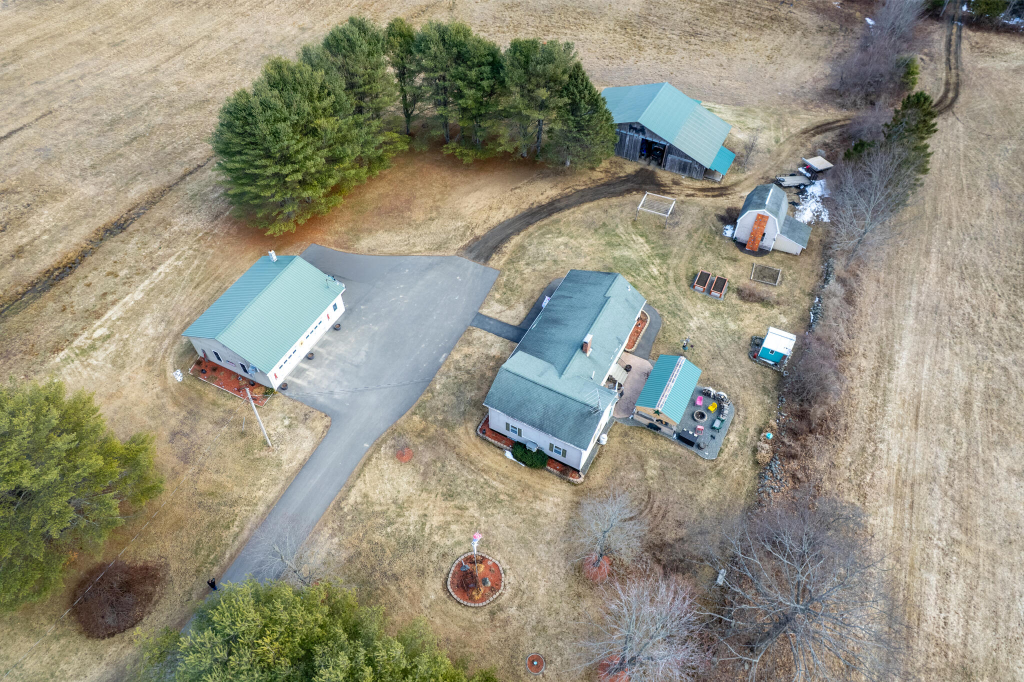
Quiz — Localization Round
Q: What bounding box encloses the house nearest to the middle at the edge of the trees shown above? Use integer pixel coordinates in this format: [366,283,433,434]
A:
[482,270,648,469]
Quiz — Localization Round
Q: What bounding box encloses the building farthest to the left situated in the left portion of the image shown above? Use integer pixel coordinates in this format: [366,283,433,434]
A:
[181,243,346,391]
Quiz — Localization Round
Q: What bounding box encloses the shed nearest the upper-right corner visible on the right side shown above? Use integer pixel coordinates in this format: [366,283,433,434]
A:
[732,185,813,261]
